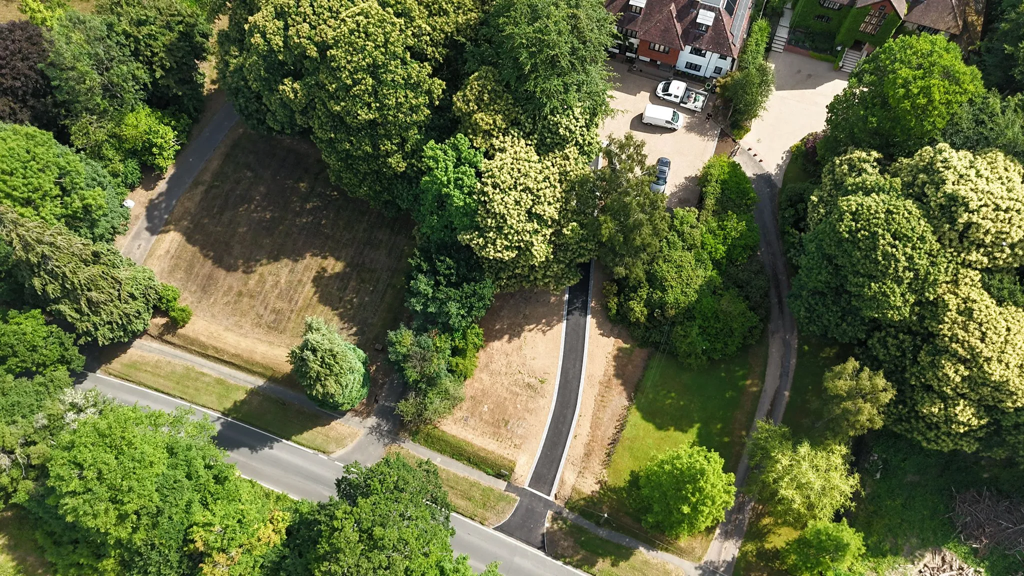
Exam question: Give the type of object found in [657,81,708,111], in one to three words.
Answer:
truck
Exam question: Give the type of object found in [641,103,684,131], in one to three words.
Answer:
van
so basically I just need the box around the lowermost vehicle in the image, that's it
[652,152,674,189]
